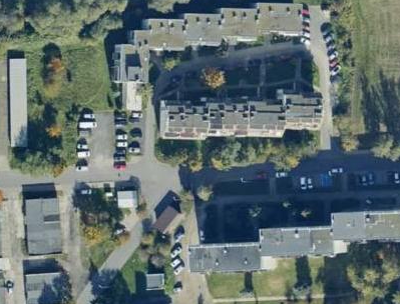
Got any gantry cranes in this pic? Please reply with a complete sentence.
No, there is no gantry crane in the image.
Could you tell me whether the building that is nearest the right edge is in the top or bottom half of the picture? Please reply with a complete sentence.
Seen from above, the building that is nearest the right edge lies in the bottom half of the view.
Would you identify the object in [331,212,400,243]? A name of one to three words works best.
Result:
building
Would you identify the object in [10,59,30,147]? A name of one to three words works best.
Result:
building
